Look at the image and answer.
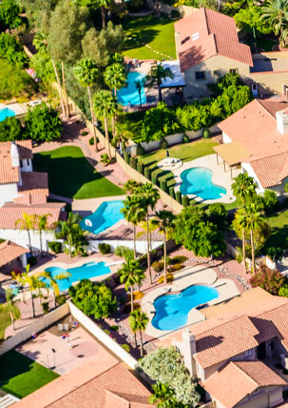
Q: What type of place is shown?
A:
residential area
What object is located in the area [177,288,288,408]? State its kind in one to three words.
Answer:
house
